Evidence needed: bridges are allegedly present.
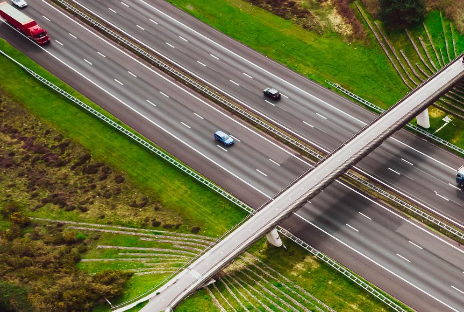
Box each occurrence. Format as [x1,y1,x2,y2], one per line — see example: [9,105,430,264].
[109,50,464,312]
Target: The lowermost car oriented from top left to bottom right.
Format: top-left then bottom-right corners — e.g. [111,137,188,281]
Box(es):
[215,129,235,146]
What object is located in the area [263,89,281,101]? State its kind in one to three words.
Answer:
vehicle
